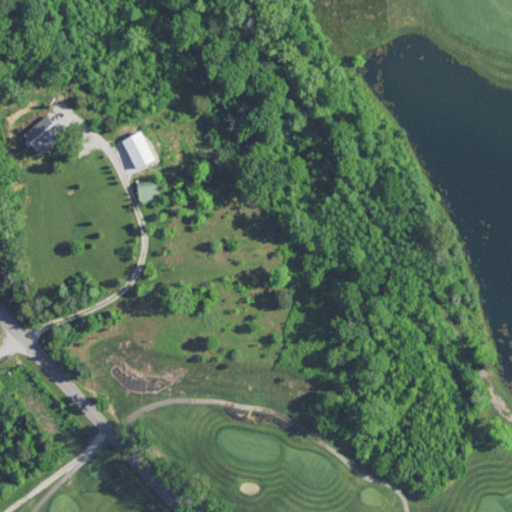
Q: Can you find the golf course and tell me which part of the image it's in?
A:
bottom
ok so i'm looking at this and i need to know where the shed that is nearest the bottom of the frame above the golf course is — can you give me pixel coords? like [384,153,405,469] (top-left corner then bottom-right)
[137,182,158,203]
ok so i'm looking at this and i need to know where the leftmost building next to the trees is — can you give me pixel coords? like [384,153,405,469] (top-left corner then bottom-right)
[22,114,56,152]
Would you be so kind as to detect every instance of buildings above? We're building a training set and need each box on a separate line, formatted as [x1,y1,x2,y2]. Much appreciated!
[137,182,158,203]
[122,132,155,169]
[22,114,56,152]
